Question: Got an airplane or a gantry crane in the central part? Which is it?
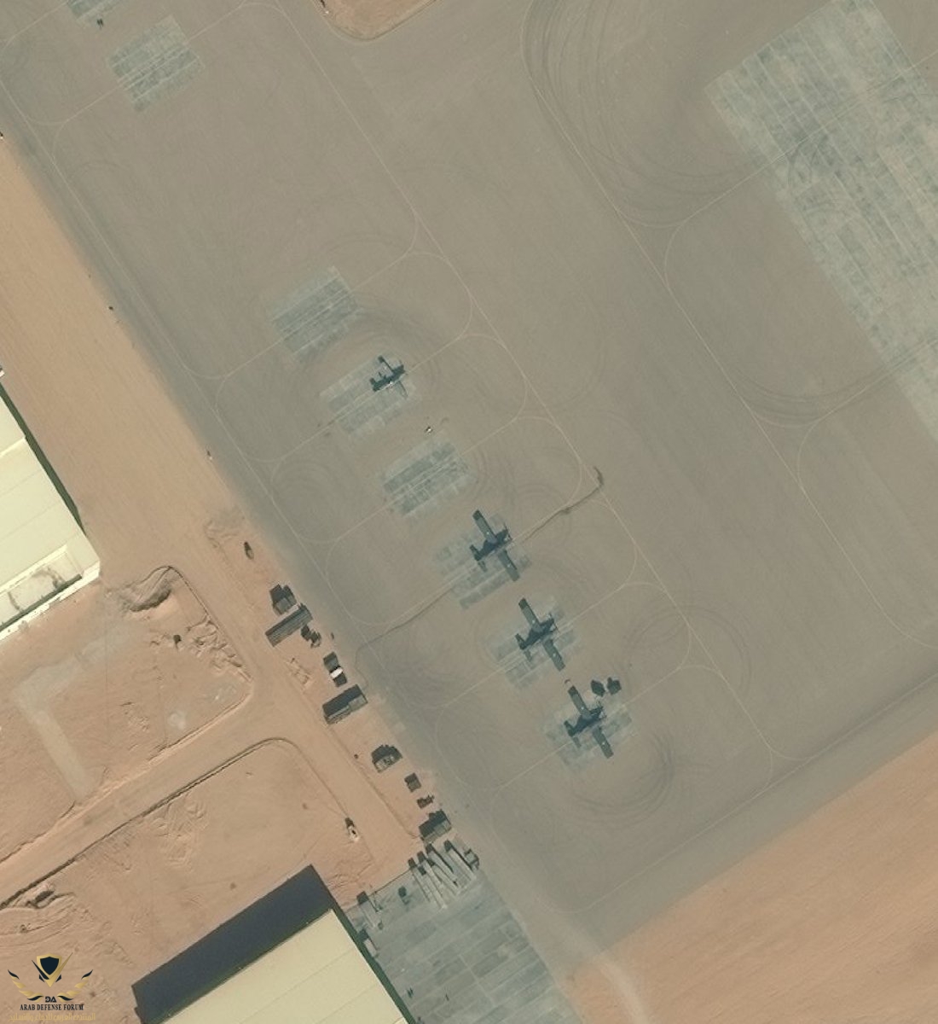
airplane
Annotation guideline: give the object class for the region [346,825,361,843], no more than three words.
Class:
vehicle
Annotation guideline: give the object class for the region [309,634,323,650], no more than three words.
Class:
vehicle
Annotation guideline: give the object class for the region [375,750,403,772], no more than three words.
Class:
truck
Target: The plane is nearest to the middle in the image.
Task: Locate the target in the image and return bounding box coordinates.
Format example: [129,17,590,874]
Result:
[471,518,519,579]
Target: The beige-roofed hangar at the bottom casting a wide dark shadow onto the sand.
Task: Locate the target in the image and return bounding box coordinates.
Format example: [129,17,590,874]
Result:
[158,909,412,1024]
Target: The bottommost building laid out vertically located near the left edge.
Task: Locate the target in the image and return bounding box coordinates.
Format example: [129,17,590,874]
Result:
[0,405,101,635]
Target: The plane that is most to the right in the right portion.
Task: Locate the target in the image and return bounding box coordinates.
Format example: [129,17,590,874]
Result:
[565,695,614,756]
